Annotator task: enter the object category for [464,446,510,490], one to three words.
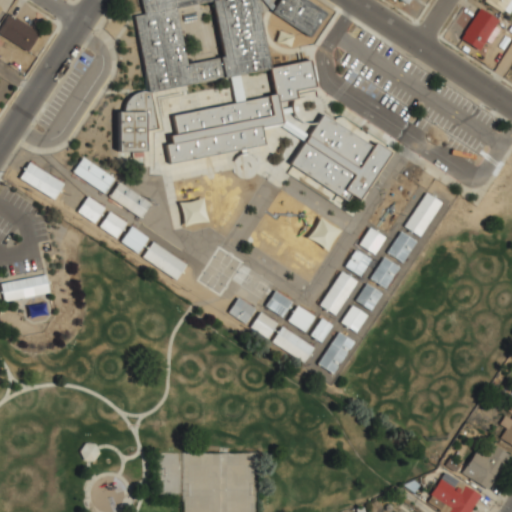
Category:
house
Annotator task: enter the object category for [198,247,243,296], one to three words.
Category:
basketball court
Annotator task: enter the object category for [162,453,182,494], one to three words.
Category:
sports court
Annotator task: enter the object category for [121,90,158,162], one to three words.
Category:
building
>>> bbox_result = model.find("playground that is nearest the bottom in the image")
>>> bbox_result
[86,475,128,512]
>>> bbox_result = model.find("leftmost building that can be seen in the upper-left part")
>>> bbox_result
[0,14,38,52]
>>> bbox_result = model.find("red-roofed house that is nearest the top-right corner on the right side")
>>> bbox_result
[462,8,500,50]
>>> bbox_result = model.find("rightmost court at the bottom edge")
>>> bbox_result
[184,454,256,512]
